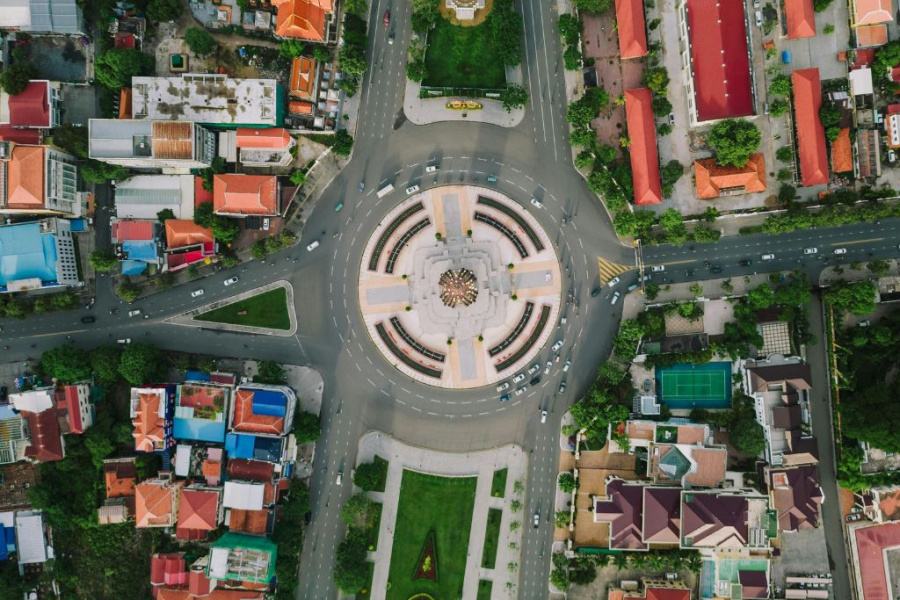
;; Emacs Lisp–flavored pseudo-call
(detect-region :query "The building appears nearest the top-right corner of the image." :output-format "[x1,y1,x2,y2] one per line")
[841,0,894,50]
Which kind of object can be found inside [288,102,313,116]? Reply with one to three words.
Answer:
shed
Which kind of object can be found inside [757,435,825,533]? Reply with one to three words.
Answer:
house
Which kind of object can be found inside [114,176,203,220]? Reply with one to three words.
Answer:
building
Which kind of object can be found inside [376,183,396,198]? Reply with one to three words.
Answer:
vehicle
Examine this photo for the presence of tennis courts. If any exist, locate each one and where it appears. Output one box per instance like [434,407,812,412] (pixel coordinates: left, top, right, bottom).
[656,362,731,408]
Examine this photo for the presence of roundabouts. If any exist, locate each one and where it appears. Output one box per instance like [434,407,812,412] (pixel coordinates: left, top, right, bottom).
[326,152,594,420]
